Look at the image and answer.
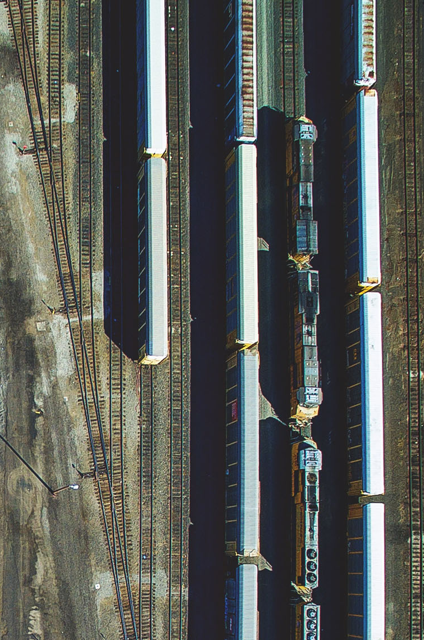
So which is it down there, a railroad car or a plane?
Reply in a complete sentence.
Looking from above, you can make out a railroad car.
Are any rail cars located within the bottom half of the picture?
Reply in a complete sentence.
Yes, the scene does show a rail car within the bottom half of the picture.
